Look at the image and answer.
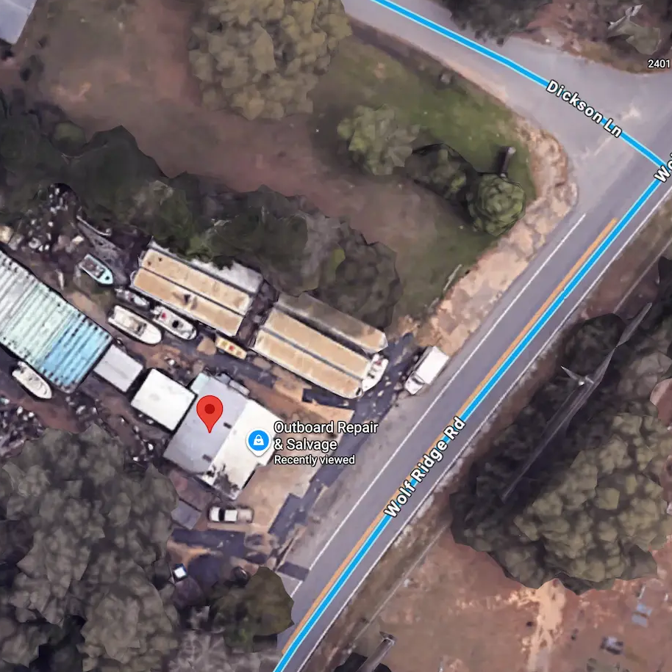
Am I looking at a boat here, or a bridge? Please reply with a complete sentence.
Visible in the photo is a boat.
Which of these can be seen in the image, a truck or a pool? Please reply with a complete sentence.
Looking from above, you can make out a truck.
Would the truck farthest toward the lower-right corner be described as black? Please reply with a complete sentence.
No, the color of the truck farthest toward the lower-right corner is white.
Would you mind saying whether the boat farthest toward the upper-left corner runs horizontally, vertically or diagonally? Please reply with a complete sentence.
The boat farthest toward the upper-left corner runs diagonally in the image.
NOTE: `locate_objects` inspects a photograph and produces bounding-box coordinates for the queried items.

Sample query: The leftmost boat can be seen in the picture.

[9,362,53,399]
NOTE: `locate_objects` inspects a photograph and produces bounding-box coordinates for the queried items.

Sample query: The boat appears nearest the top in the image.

[78,254,114,284]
